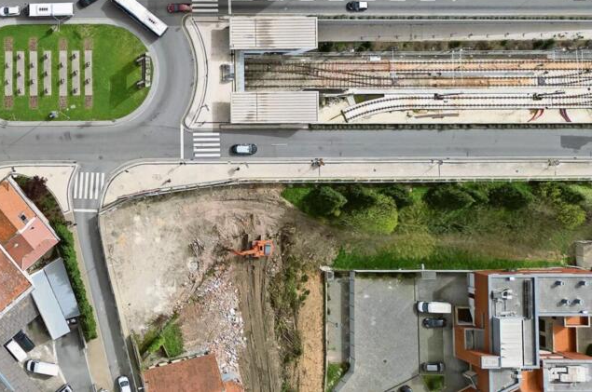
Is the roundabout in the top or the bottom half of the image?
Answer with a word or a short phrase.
top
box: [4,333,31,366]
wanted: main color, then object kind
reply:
white truck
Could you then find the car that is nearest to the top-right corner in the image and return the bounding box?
[345,0,368,12]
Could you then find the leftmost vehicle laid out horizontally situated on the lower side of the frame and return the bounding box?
[25,359,59,378]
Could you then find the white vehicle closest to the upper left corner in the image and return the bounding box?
[0,4,20,16]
